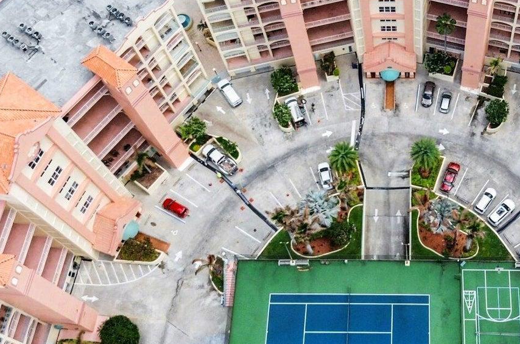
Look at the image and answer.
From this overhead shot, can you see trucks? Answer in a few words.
Yes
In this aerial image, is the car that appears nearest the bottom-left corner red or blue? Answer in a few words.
red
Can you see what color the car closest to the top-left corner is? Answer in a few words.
white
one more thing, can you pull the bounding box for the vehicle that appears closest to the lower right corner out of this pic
[489,199,515,228]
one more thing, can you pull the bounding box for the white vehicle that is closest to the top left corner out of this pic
[217,79,243,107]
